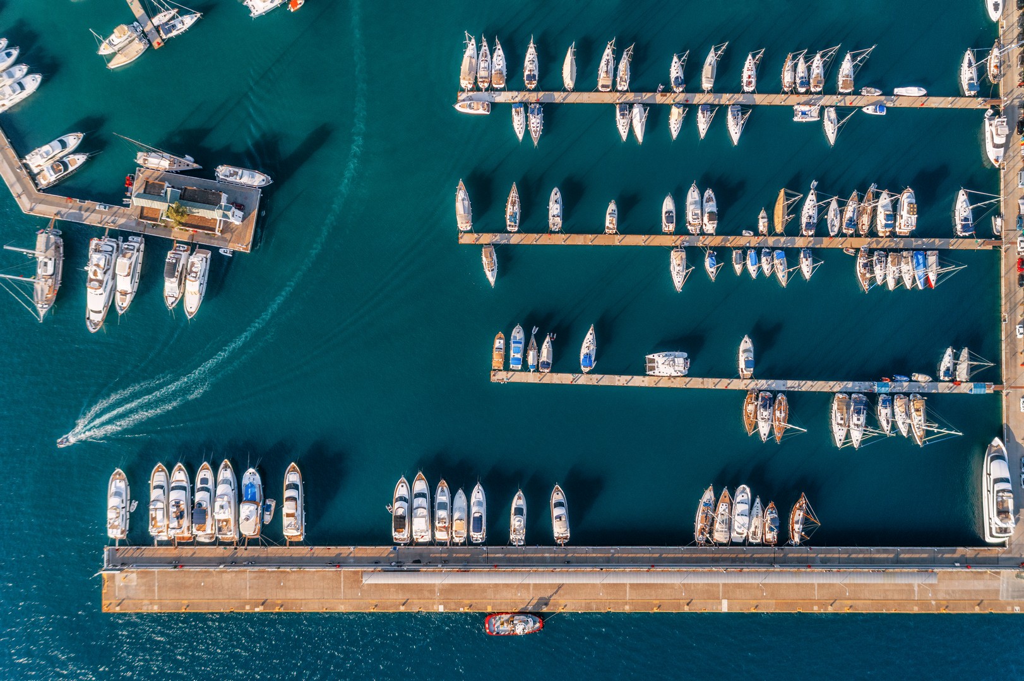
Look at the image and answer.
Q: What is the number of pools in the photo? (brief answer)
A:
zero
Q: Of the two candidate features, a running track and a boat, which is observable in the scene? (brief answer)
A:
boat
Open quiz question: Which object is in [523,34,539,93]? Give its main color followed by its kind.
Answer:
white boat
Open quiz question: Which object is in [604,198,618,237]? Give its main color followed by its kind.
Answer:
white boat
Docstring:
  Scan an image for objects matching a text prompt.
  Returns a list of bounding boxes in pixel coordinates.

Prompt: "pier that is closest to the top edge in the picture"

[129,0,166,51]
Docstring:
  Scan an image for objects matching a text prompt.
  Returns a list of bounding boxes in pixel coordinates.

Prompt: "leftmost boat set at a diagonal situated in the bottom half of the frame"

[57,433,73,445]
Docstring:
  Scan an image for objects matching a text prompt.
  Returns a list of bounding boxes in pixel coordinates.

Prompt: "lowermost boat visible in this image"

[469,609,561,643]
